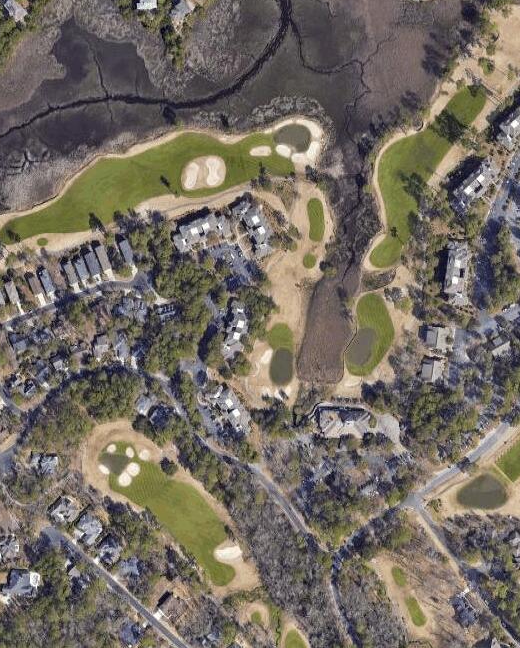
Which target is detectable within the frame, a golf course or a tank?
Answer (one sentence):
I can see a golf course in this picture.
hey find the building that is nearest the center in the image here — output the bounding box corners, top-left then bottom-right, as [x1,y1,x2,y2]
[221,301,248,357]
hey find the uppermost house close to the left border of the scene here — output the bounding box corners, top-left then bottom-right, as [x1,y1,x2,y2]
[1,0,28,23]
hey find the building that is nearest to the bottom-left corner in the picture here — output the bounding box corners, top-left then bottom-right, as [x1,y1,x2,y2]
[8,572,39,599]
